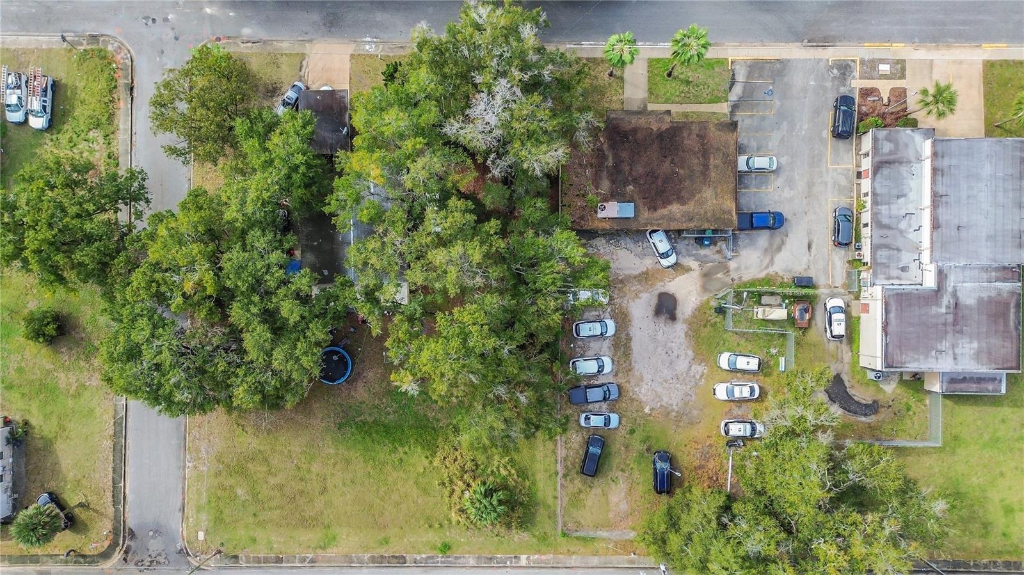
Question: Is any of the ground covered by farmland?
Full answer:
No, there's no farmland in this view.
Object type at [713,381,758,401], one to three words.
car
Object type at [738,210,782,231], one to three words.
truck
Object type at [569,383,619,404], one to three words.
truck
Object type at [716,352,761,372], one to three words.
car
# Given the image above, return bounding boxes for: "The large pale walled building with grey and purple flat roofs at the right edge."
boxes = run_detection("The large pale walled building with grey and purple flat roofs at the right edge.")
[858,127,1024,395]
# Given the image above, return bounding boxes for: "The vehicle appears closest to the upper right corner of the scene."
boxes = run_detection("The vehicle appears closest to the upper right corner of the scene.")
[831,96,856,141]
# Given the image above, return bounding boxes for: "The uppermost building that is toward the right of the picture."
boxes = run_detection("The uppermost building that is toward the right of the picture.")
[566,110,738,229]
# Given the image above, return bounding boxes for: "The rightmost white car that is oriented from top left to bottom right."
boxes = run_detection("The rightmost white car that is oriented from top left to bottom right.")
[645,229,678,271]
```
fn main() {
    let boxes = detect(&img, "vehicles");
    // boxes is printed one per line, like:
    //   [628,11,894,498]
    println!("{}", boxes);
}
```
[577,286,608,307]
[580,433,604,477]
[652,450,672,494]
[27,75,56,130]
[579,411,619,431]
[716,352,761,372]
[725,439,744,448]
[822,296,846,340]
[275,77,309,119]
[572,318,615,339]
[738,154,776,174]
[40,488,74,529]
[569,355,613,376]
[831,206,853,248]
[2,70,33,124]
[713,381,758,401]
[645,229,678,271]
[738,210,782,231]
[319,85,335,90]
[569,383,619,404]
[720,418,763,440]
[831,96,856,141]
